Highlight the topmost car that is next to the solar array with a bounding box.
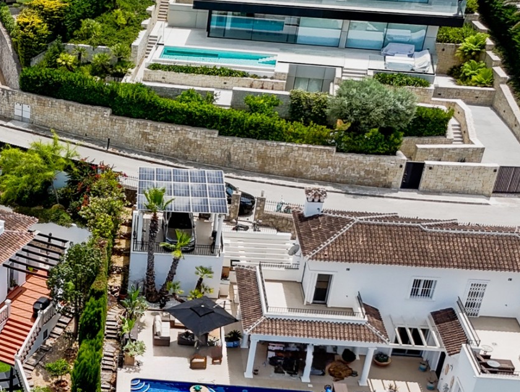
[224,179,282,215]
